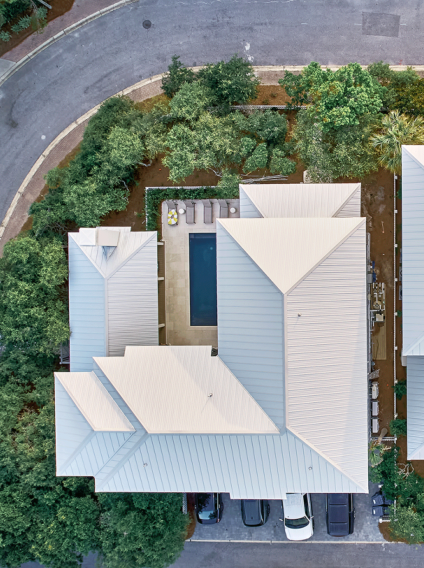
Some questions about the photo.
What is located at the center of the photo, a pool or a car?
pool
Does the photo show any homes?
Yes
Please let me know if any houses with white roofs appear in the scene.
Yes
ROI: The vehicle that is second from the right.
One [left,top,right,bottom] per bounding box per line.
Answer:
[280,493,315,540]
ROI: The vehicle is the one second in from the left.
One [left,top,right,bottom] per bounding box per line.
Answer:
[240,500,271,527]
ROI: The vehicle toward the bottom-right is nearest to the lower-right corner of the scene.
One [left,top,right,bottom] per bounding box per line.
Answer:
[325,493,356,539]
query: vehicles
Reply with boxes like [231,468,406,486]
[240,500,271,527]
[325,493,356,539]
[280,493,315,540]
[192,493,222,525]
